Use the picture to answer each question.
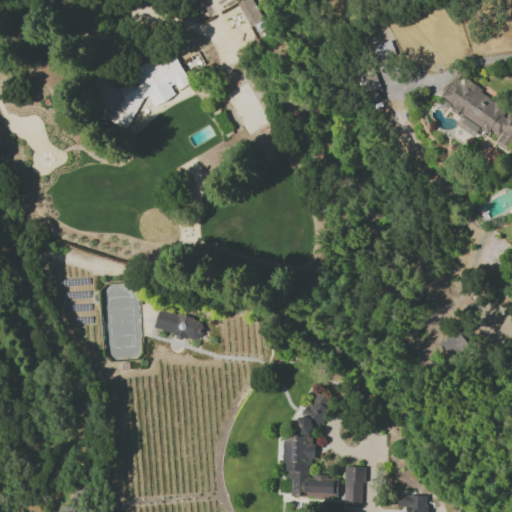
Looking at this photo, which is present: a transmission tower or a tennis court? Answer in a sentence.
There is a tennis court in the scene.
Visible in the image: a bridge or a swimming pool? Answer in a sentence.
This aerial view contains a swimming pool.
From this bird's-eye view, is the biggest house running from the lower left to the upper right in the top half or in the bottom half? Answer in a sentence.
The top half of the photo is where the biggest house running from the lower left to the upper right is.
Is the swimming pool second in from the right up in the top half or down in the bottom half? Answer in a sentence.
It is in the top half that the swimming pool second in from the right appears.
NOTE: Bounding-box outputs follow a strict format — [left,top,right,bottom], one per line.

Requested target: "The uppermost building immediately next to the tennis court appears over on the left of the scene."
[155,311,201,342]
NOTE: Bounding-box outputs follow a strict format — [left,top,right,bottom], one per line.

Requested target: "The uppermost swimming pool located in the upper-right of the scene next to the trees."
[434,109,457,130]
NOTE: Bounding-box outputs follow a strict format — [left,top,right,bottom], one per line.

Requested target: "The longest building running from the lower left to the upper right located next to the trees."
[112,59,191,126]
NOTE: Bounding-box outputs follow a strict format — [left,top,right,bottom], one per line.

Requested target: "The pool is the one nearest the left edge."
[190,126,216,147]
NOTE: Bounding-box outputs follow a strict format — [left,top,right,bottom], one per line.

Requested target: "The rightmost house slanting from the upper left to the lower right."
[437,74,512,151]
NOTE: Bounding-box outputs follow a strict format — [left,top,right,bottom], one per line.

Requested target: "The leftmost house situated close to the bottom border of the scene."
[284,394,340,499]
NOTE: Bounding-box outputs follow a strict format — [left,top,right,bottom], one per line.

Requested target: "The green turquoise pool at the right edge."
[490,190,512,217]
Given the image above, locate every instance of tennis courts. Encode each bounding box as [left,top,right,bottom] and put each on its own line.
[106,284,143,360]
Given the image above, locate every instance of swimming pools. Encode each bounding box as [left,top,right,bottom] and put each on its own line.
[190,126,216,147]
[490,190,512,217]
[434,109,457,130]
